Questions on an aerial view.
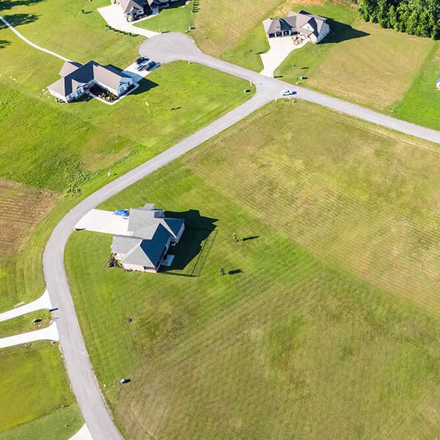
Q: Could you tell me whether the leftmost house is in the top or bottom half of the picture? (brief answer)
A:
top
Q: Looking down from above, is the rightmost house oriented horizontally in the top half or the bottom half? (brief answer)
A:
top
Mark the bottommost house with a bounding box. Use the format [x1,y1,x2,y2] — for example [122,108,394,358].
[108,204,188,276]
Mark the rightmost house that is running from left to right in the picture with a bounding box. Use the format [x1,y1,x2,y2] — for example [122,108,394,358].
[260,10,331,46]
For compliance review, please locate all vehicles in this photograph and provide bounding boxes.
[145,60,156,70]
[279,88,294,95]
[111,209,129,217]
[135,55,147,63]
[134,63,145,71]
